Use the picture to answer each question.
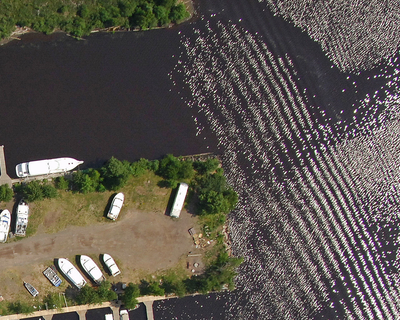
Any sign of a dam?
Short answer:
No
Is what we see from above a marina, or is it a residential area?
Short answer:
marina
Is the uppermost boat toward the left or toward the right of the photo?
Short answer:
left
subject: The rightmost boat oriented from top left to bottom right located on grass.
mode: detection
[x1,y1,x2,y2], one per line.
[104,254,122,276]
